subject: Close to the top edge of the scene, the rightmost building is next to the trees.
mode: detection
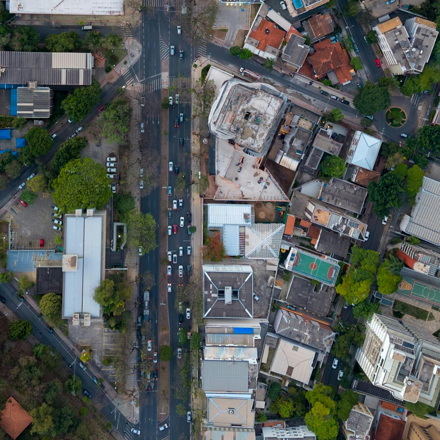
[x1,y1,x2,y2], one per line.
[367,16,438,73]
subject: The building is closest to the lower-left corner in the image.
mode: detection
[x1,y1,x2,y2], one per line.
[0,394,35,440]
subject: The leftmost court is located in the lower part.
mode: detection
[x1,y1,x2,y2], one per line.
[292,252,337,284]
